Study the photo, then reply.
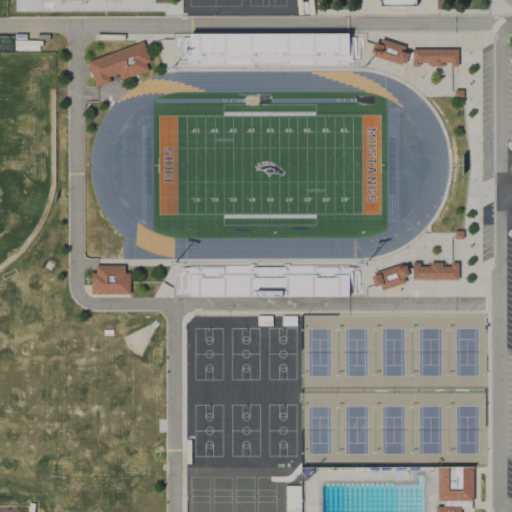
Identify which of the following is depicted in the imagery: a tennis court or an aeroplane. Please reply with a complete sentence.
I can see a tennis court in this picture.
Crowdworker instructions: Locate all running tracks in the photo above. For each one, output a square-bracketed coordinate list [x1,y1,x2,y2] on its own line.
[93,72,449,258]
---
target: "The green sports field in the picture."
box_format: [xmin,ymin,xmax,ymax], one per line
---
[154,90,387,240]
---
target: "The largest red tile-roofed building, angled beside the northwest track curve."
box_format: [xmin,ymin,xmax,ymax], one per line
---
[90,42,152,86]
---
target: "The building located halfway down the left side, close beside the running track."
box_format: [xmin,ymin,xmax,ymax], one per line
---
[92,265,132,294]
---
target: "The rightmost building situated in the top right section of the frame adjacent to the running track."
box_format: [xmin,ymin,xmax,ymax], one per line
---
[414,48,460,66]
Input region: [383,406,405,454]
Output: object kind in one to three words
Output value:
tennis court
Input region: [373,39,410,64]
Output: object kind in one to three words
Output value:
building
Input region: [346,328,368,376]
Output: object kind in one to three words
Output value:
tennis court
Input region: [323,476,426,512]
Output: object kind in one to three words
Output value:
swimming pool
